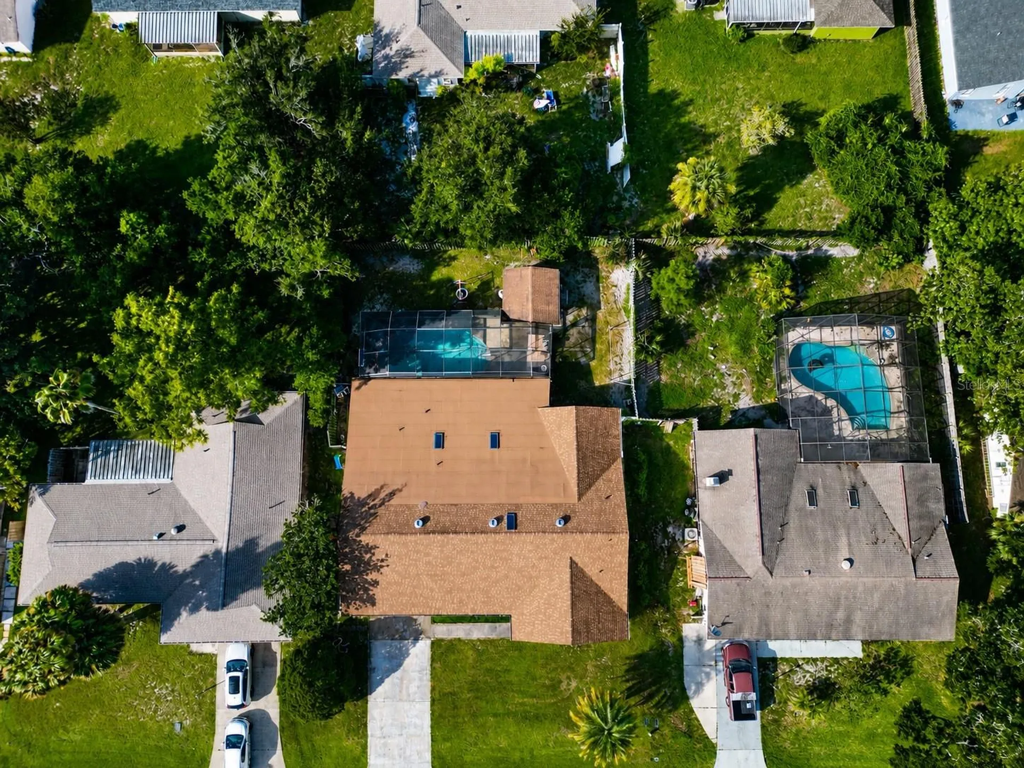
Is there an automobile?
Yes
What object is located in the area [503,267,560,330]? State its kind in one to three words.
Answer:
shed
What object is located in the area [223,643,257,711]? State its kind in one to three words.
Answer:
car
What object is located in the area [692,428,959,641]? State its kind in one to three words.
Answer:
house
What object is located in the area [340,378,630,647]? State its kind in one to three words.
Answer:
house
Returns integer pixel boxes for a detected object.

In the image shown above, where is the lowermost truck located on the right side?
[721,642,757,725]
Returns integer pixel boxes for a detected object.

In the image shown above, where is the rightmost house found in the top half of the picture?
[936,0,1024,107]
